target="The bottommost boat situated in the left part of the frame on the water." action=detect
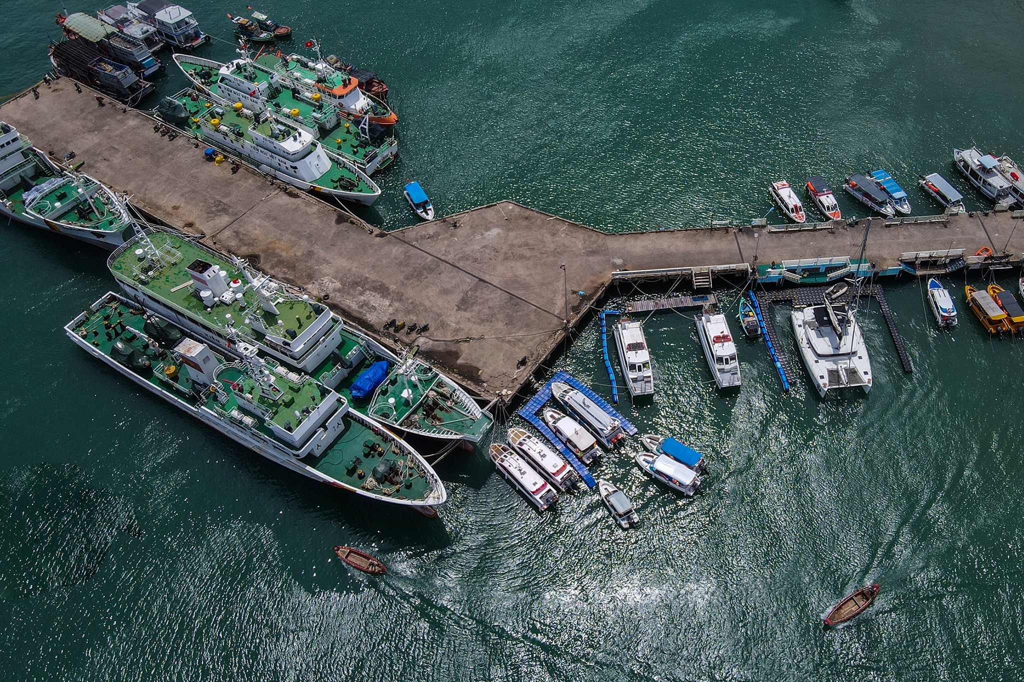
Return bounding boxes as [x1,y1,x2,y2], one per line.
[333,546,403,582]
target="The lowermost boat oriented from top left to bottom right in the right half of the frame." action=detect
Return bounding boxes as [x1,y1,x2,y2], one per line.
[598,482,640,533]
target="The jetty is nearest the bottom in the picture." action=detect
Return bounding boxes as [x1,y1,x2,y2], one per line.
[519,373,639,490]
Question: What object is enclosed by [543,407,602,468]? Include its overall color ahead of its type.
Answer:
white boat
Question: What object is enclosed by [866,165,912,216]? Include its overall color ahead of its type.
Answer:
blue boat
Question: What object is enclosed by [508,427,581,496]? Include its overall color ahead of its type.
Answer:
white boat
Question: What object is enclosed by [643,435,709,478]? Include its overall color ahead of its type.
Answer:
blue boat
